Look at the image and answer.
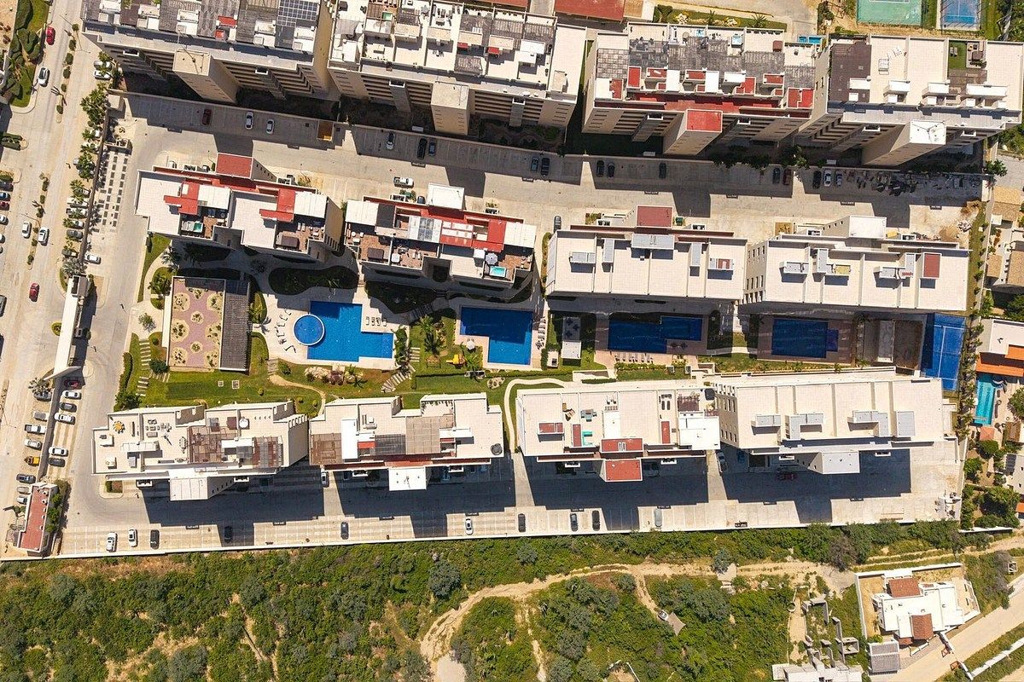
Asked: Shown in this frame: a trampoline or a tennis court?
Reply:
tennis court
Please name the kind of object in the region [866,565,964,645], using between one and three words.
house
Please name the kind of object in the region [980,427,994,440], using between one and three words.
umbrella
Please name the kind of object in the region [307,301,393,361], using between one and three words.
swimming pool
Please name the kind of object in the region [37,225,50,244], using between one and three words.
vehicle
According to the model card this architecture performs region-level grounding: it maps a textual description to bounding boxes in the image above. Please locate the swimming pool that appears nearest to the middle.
[460,307,533,365]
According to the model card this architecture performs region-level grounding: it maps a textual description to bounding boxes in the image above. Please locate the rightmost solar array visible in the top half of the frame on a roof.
[417,217,434,240]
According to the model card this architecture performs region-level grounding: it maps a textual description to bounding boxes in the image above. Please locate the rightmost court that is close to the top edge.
[937,0,981,30]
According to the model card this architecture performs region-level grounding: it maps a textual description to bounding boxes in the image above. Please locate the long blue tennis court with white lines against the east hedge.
[920,313,966,390]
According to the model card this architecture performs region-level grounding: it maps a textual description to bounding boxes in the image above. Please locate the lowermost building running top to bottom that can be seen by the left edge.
[18,481,65,552]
